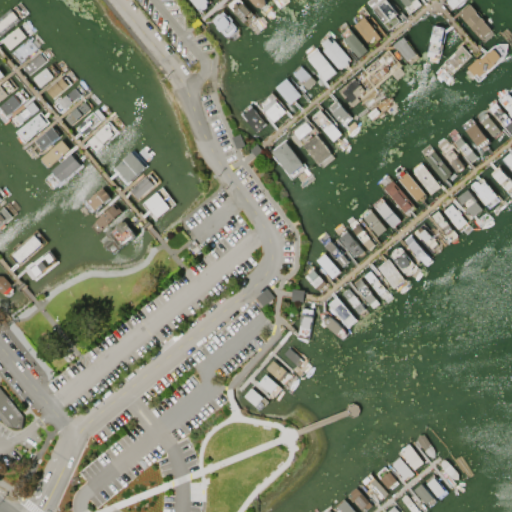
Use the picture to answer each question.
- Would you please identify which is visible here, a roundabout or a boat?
boat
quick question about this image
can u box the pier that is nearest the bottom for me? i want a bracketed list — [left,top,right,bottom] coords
[372,444,458,512]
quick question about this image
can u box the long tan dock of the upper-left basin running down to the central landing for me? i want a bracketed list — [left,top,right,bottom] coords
[0,46,150,242]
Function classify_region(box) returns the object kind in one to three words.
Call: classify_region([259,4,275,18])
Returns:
boat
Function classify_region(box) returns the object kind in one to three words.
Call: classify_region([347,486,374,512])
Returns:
boat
